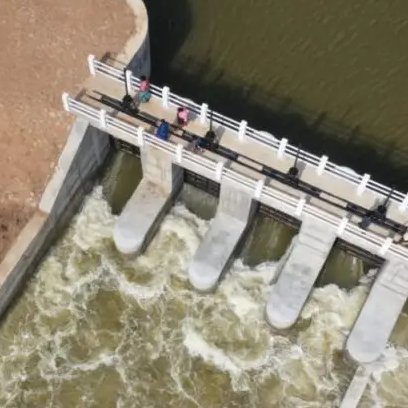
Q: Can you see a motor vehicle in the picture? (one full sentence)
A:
No, the frame has no motor vehicle in it.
